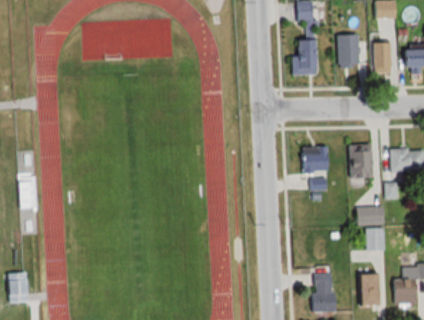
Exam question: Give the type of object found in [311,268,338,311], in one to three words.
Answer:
house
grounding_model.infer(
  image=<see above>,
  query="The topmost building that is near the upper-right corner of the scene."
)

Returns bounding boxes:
[374,0,398,18]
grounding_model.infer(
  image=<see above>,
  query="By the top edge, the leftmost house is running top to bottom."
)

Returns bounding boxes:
[291,0,318,75]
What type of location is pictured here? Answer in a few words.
sports ground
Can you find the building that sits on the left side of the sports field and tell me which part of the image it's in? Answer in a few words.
bottom left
